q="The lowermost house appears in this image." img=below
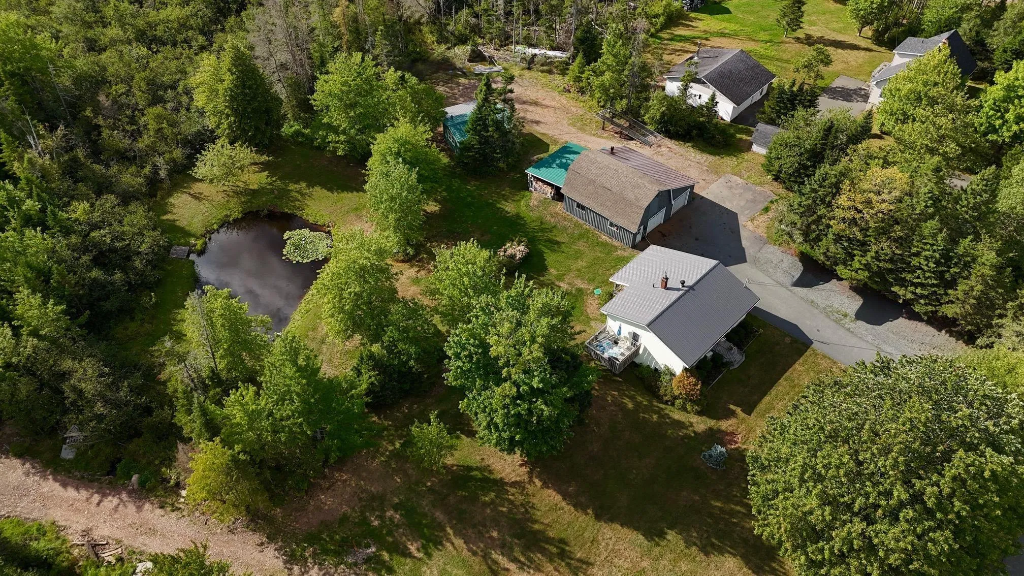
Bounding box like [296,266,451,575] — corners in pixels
[599,244,760,387]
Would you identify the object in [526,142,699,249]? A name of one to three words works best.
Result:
building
